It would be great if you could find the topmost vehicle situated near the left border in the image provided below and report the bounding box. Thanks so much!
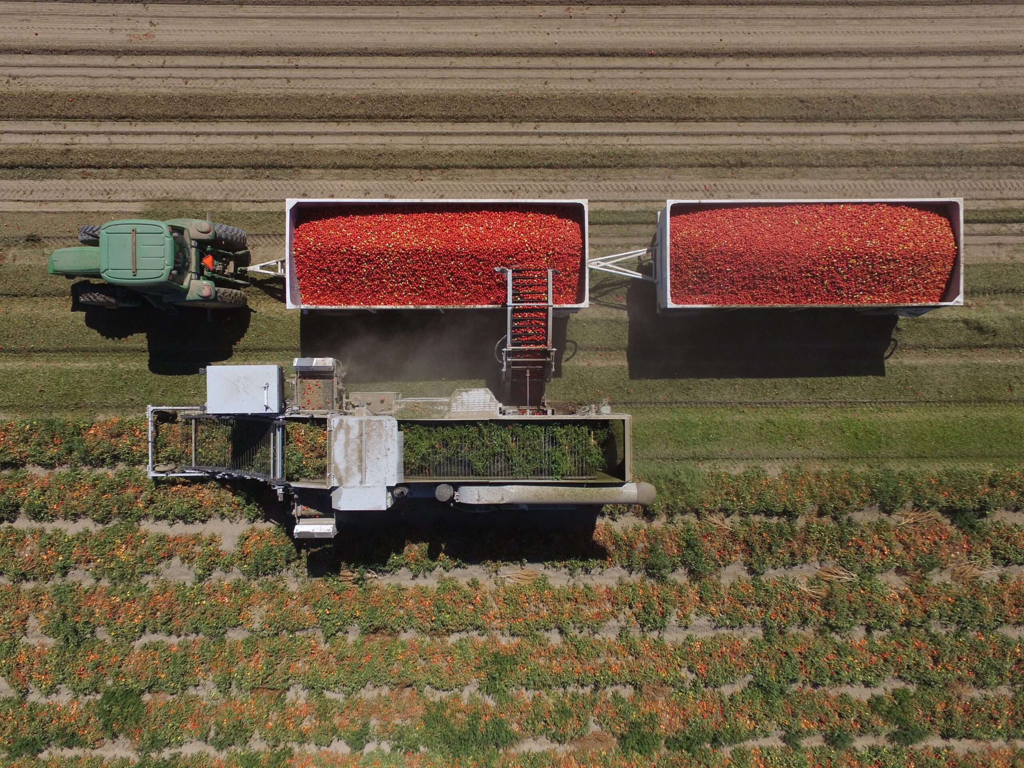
[45,212,250,323]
